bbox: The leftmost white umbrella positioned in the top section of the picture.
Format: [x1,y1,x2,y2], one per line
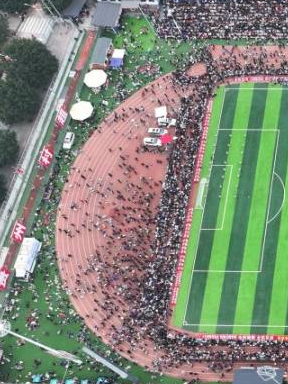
[71,101,93,120]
